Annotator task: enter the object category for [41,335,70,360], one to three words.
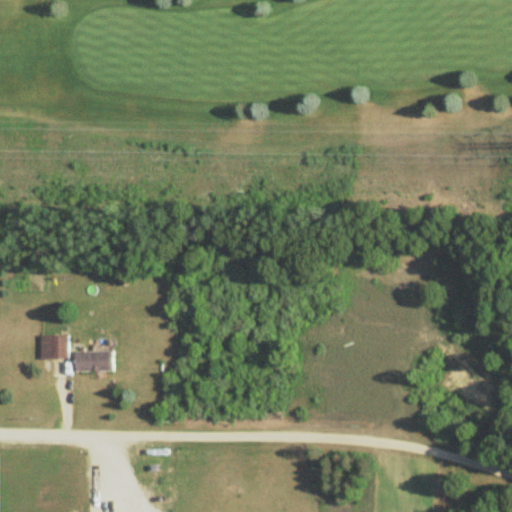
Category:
building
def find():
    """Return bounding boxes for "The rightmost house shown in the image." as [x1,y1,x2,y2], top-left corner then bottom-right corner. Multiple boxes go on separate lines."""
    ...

[73,352,114,378]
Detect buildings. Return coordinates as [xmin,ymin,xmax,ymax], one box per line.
[41,335,70,360]
[73,352,114,378]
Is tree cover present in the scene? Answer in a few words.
Yes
